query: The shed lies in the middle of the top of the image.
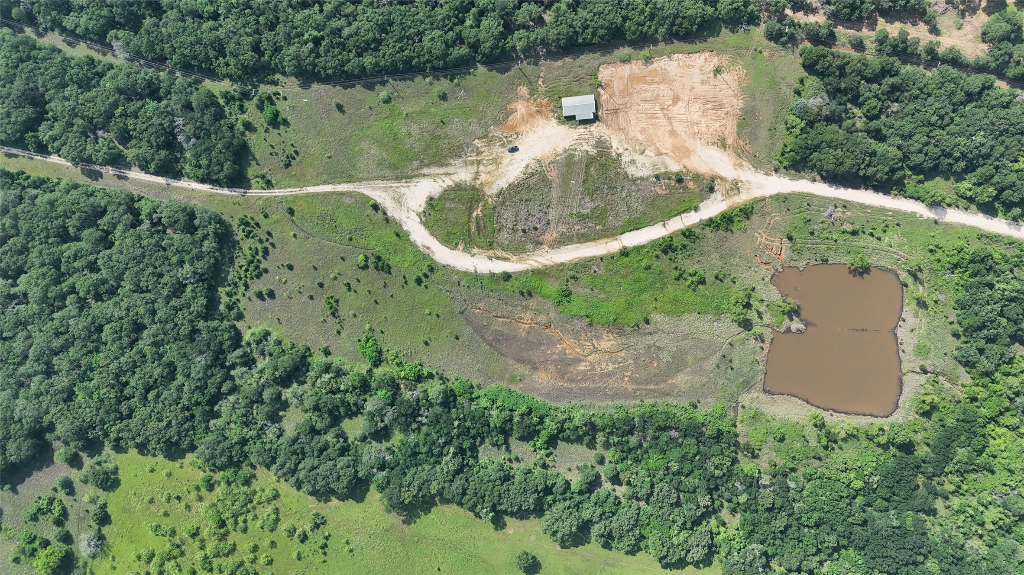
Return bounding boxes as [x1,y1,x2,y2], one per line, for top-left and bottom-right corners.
[561,95,596,123]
